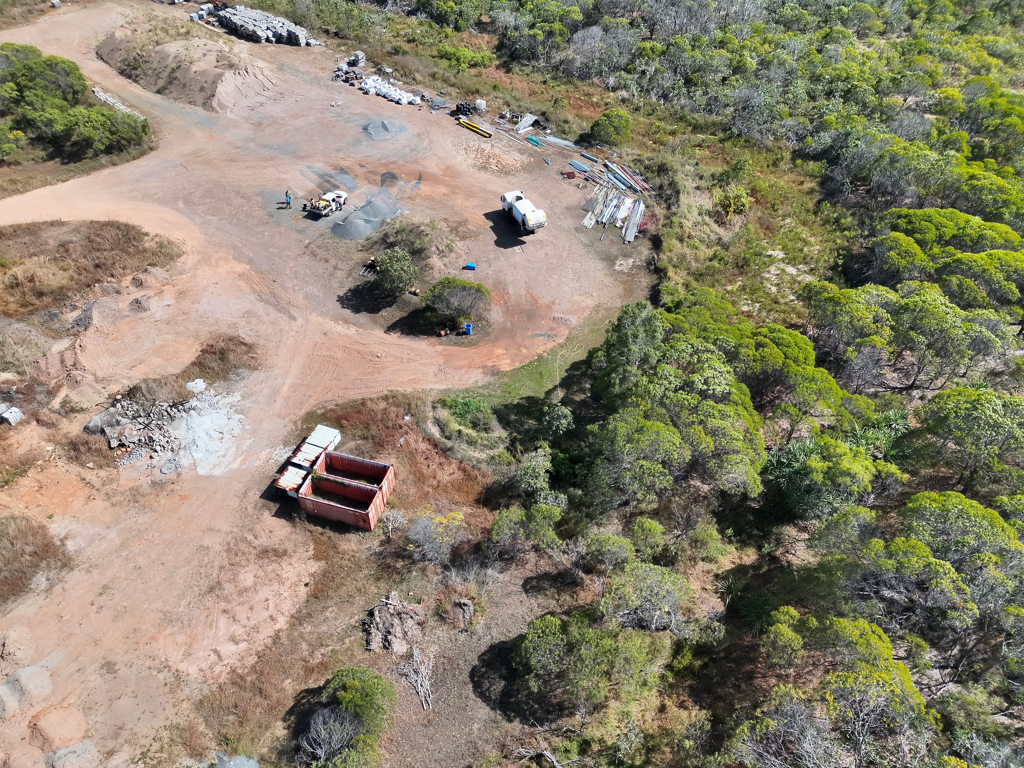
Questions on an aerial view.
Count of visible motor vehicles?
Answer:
2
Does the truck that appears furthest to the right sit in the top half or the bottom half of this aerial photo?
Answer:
top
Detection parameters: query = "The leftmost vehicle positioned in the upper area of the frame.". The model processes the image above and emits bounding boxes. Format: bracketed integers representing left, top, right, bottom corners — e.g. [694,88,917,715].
[311,191,349,217]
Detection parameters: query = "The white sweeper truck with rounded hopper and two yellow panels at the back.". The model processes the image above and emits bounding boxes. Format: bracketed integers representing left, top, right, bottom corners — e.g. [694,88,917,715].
[501,193,543,235]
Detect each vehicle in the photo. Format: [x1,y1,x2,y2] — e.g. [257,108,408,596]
[311,191,349,217]
[501,193,543,235]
